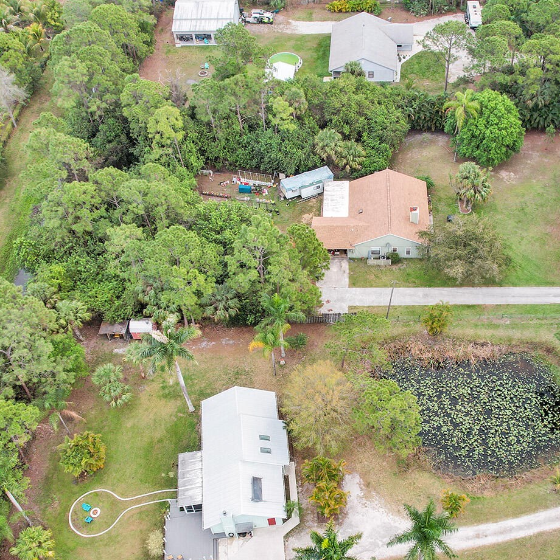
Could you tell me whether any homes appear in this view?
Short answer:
Yes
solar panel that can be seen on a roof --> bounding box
[251,474,270,502]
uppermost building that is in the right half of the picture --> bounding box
[329,14,414,81]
